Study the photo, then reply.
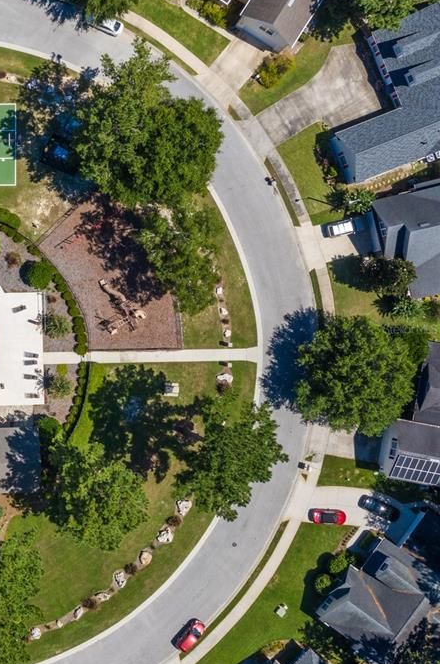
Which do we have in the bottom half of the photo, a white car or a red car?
red car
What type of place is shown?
residential area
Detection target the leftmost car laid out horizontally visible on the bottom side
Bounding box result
[311,507,347,526]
